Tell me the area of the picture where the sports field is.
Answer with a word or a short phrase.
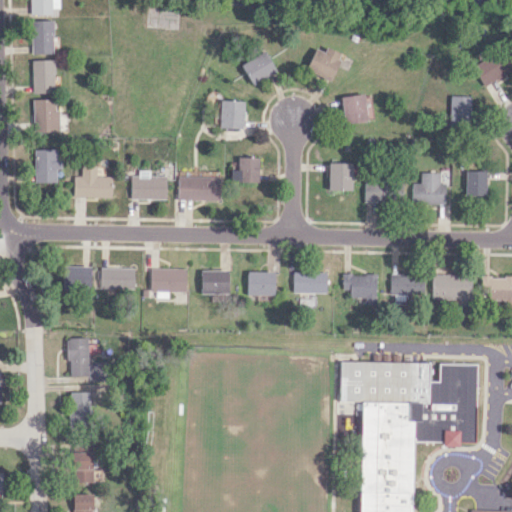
bottom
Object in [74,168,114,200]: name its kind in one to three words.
house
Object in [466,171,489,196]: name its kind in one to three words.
house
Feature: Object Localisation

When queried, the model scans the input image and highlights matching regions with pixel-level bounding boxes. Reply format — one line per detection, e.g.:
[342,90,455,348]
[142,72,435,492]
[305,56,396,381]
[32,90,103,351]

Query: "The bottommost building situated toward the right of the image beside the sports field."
[341,362,479,512]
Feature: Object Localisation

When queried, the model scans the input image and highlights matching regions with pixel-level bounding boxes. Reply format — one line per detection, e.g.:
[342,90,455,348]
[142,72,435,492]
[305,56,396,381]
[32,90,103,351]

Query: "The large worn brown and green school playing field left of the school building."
[182,352,332,512]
